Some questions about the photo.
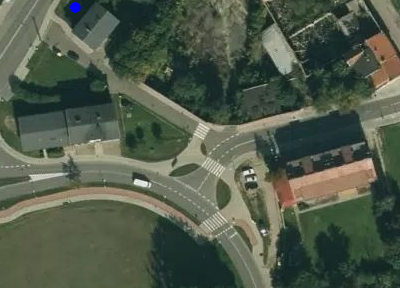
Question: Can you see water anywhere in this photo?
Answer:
No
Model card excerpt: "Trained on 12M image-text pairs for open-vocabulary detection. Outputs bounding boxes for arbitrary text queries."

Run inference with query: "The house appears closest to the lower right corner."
[274,142,378,206]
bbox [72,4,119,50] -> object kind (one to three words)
house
